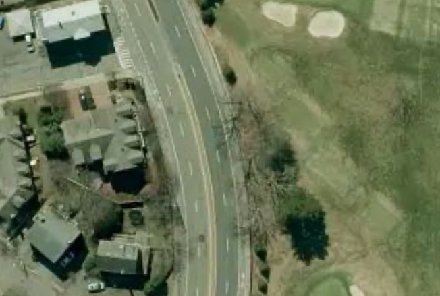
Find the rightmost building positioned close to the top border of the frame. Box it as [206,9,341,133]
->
[40,0,107,46]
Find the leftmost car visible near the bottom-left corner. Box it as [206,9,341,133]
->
[61,251,76,267]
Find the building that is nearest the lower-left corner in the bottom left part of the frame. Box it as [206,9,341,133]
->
[26,206,81,262]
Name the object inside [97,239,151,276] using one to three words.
house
